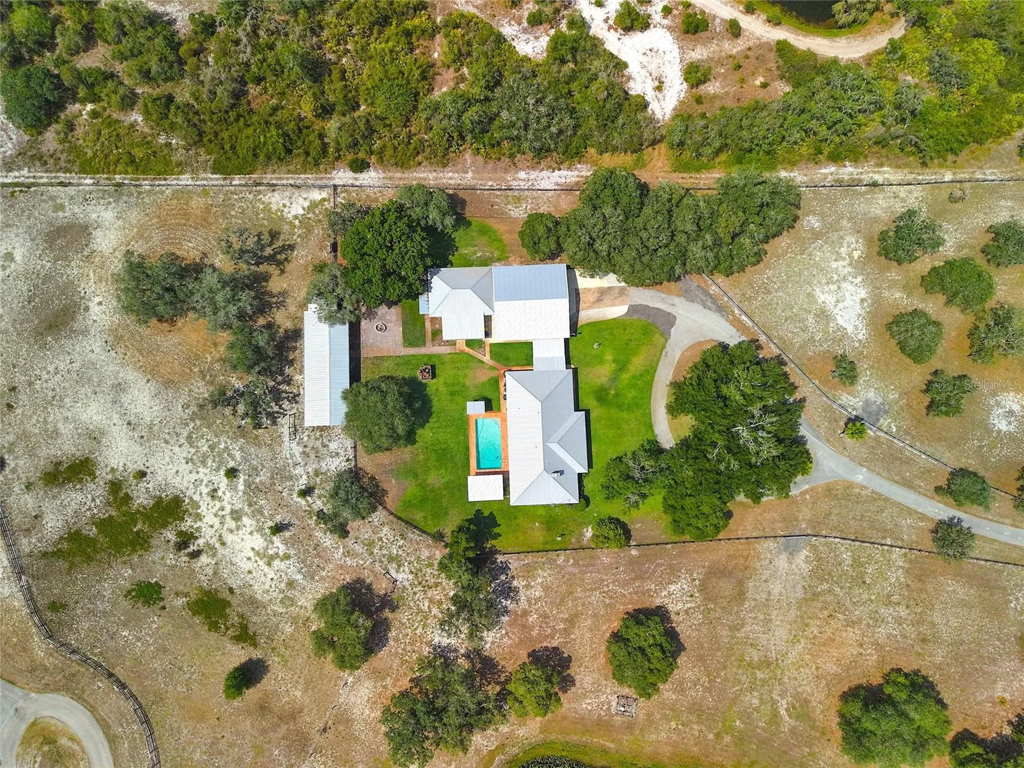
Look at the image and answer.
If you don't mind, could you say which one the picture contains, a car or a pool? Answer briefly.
pool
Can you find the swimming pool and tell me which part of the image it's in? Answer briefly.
center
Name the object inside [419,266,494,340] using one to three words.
house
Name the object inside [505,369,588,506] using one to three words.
house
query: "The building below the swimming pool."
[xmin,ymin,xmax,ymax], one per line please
[467,474,503,502]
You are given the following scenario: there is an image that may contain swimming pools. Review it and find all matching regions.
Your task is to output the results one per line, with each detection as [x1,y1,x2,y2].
[474,416,506,471]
